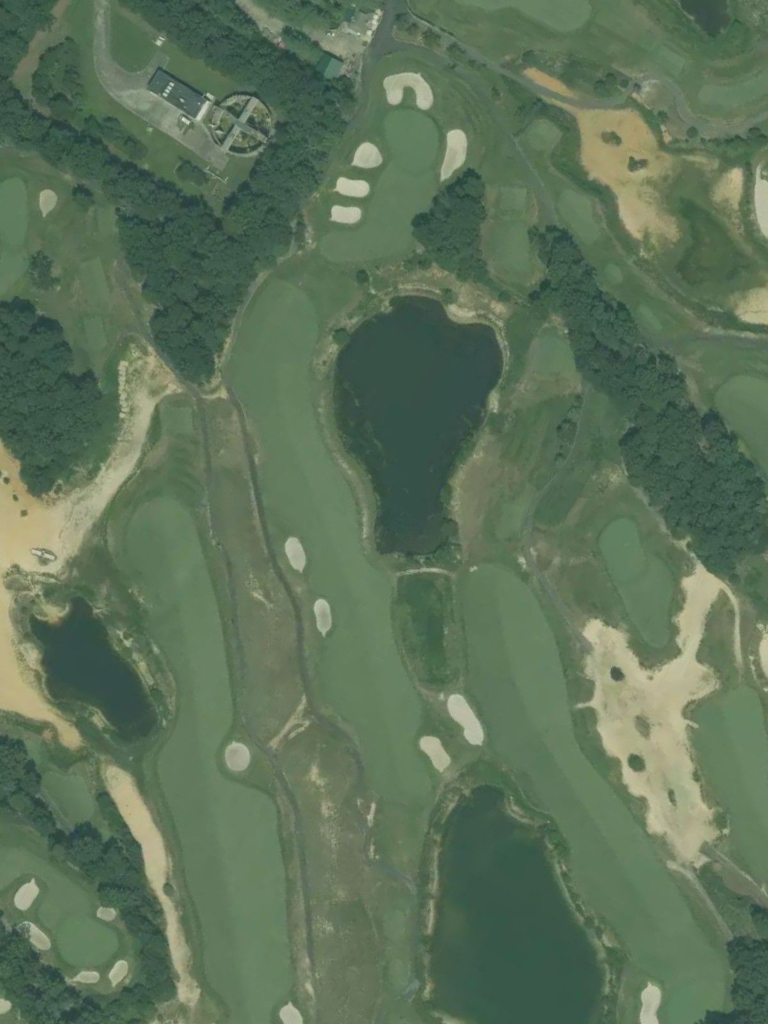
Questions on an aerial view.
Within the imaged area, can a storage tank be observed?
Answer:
Yes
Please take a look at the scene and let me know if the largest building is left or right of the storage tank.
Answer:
to its left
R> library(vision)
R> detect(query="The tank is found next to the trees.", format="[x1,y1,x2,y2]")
[212,94,276,155]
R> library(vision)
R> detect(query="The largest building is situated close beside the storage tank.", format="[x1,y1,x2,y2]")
[148,70,212,124]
